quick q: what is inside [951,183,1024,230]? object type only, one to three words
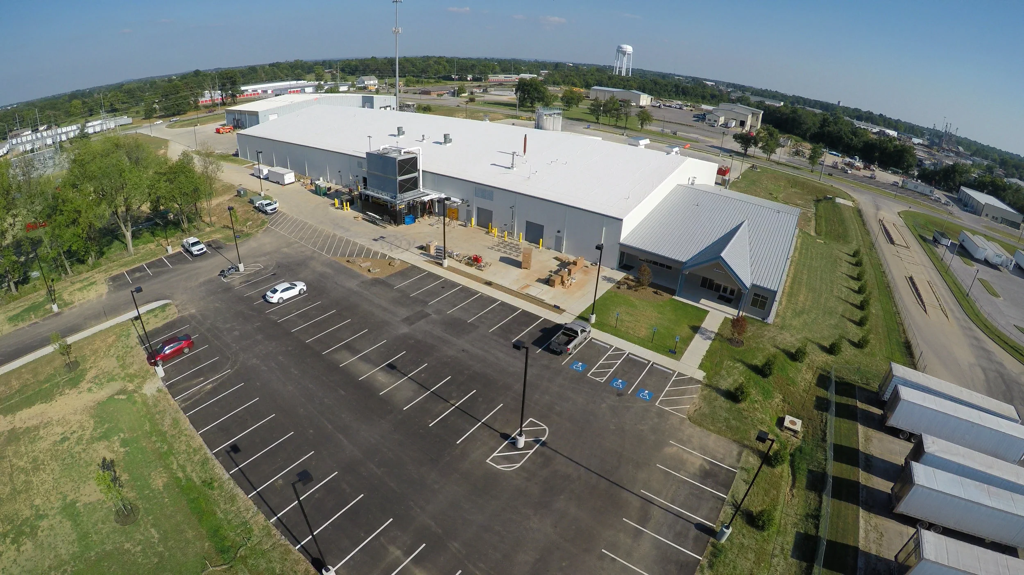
building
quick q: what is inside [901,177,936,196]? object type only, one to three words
building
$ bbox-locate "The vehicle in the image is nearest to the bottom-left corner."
[144,335,193,366]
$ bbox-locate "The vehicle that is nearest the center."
[550,319,596,357]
